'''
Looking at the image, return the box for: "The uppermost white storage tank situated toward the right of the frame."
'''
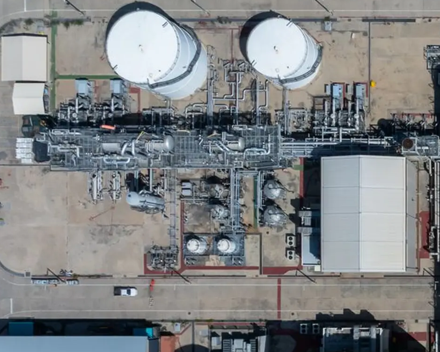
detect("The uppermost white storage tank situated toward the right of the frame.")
[246,16,324,94]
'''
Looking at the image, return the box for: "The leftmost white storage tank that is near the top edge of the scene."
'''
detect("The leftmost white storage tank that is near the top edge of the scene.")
[105,11,207,102]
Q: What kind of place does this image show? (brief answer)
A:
industrial area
